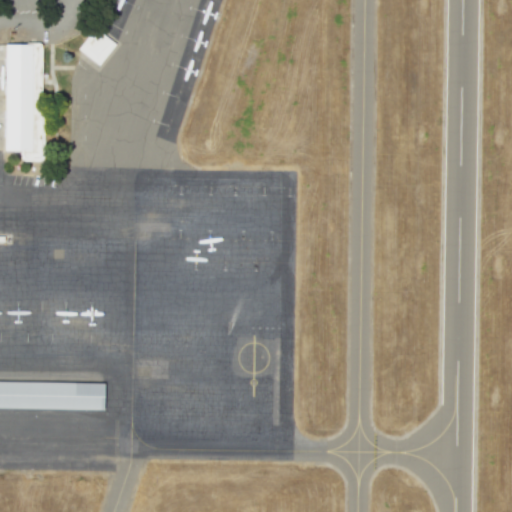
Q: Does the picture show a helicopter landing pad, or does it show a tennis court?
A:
helicopter landing pad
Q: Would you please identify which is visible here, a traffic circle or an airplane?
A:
airplane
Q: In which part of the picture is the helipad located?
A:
bottom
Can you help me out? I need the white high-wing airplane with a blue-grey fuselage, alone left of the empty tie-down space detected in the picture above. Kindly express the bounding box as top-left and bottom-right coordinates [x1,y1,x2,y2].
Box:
[6,308,30,324]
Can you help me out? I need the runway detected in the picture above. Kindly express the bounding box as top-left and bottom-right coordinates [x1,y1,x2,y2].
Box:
[438,0,482,512]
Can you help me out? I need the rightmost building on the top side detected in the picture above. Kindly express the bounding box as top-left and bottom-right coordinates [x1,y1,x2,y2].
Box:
[80,32,118,66]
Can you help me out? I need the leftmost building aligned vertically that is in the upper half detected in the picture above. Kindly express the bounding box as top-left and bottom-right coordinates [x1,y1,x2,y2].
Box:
[6,42,45,161]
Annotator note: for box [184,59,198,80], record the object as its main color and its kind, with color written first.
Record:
white airplane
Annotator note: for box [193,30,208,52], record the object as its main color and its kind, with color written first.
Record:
white airplane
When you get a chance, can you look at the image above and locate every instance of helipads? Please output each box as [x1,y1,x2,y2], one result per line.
[233,336,280,426]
